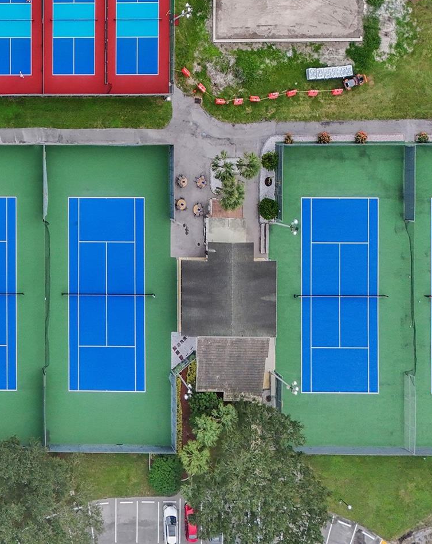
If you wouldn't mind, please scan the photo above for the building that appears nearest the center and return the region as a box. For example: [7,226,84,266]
[175,243,277,339]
